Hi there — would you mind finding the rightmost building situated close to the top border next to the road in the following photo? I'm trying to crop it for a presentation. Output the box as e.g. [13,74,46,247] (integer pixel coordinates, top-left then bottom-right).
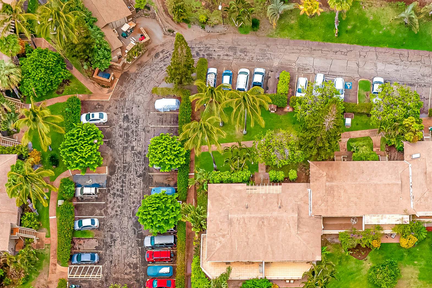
[89,0,139,70]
